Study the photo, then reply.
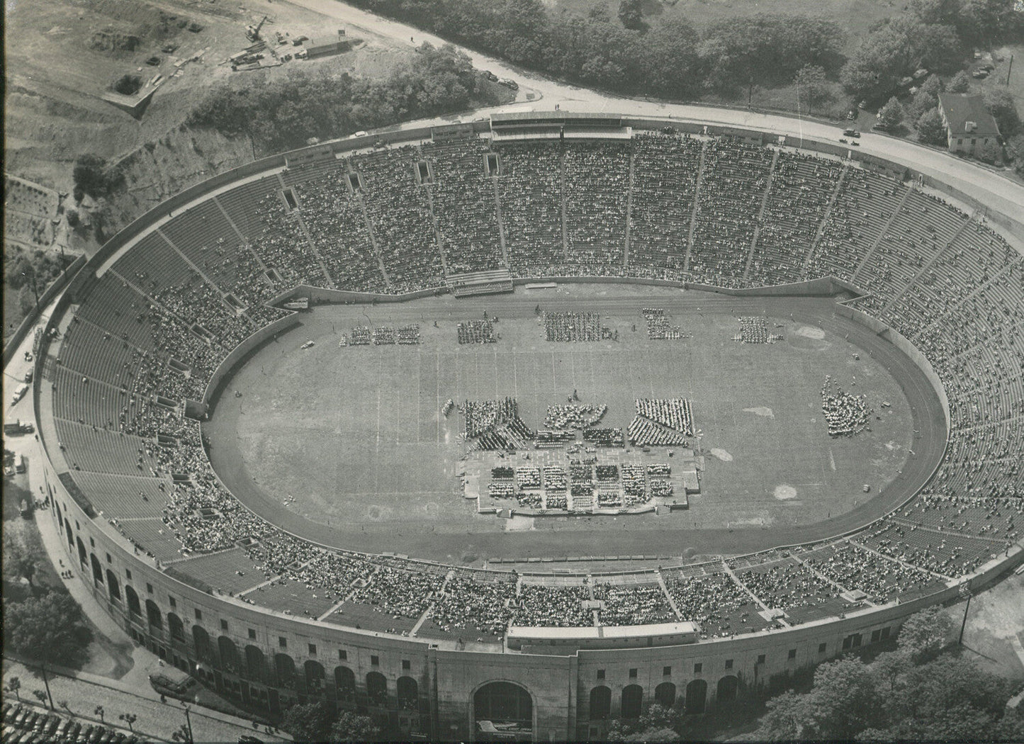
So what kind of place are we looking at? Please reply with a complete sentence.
The picture captures a sports ground.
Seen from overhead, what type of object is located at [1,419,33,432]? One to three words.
vehicle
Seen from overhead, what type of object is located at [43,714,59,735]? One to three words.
car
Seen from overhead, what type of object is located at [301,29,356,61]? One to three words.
shed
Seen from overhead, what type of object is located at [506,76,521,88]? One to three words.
vehicle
